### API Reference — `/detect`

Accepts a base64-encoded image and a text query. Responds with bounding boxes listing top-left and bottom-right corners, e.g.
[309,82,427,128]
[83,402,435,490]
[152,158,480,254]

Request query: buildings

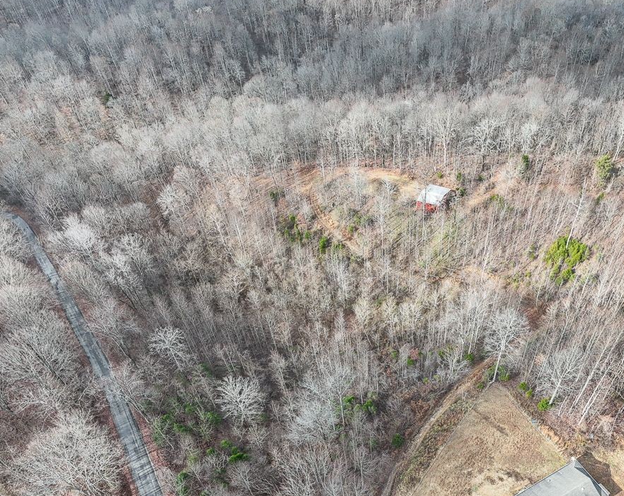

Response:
[414,183,459,216]
[518,454,606,496]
